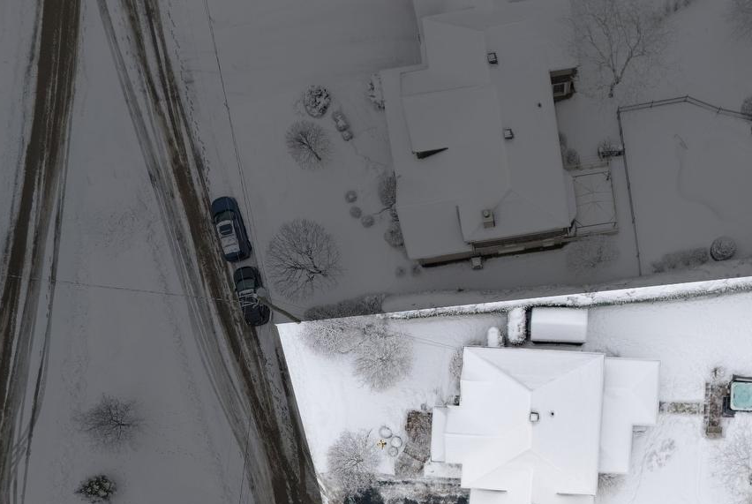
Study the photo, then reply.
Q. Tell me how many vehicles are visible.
2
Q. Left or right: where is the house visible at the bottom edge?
right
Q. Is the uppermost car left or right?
left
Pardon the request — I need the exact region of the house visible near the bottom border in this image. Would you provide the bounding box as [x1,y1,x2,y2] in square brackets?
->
[431,346,661,504]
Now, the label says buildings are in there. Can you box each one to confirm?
[431,346,661,504]
[531,307,587,343]
[380,0,579,260]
